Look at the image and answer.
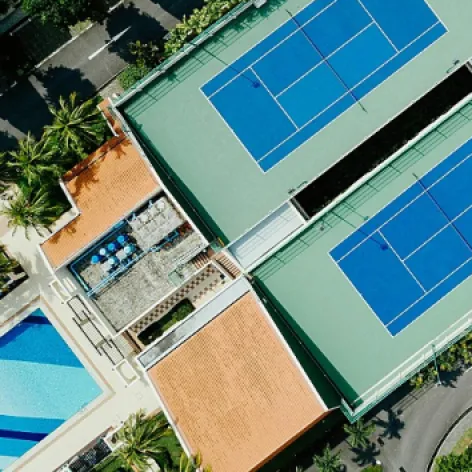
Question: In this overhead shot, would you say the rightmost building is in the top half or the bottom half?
bottom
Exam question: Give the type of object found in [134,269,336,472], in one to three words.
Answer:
building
